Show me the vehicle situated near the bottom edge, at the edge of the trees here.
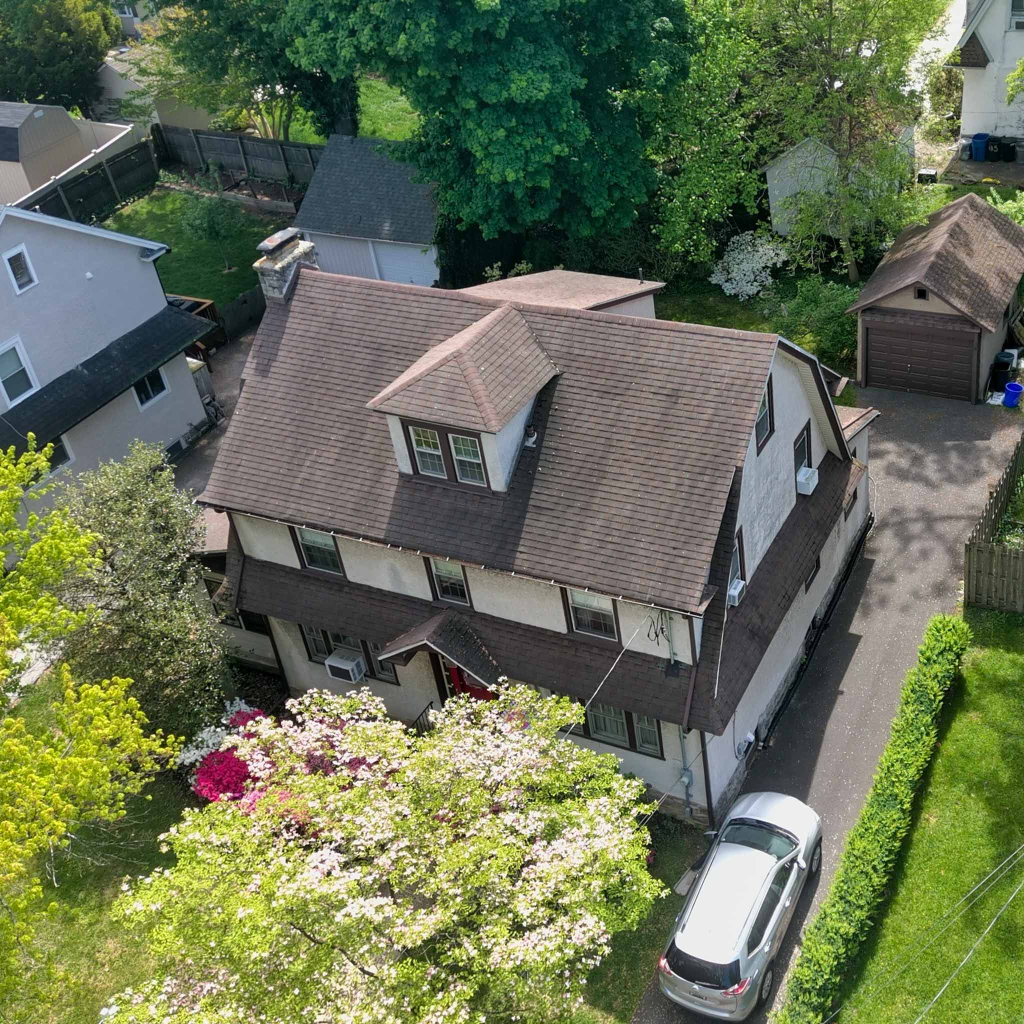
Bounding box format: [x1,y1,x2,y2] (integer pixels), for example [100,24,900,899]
[651,786,820,1021]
